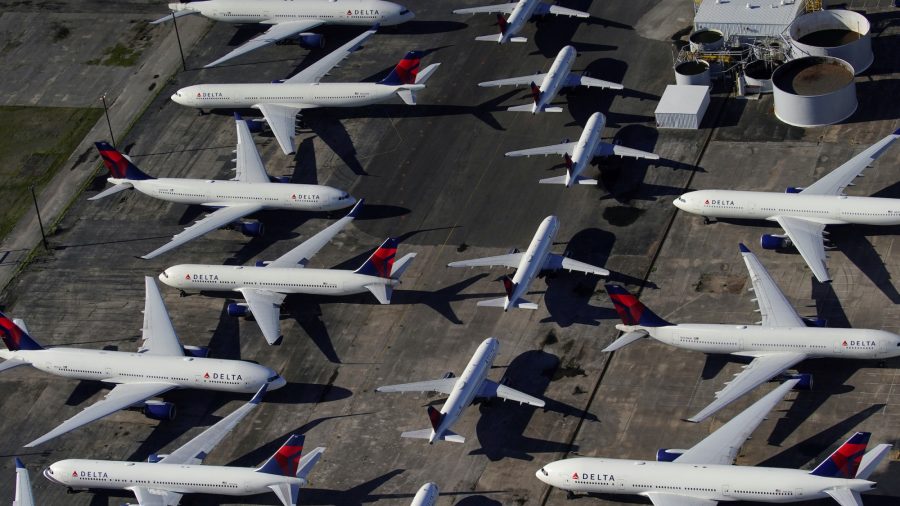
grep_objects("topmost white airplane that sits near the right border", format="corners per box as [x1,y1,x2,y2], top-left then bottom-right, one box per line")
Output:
[675,129,900,281]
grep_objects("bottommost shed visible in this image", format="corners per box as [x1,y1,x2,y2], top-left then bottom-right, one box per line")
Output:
[654,84,710,129]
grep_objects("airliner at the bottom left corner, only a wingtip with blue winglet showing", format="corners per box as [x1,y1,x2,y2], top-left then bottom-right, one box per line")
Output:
[12,456,34,506]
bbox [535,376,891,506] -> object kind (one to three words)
airplane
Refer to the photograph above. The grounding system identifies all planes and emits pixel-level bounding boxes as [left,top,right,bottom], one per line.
[675,129,900,281]
[150,0,416,67]
[89,111,356,258]
[159,199,417,344]
[451,0,592,45]
[375,337,547,445]
[503,112,660,187]
[171,20,439,154]
[405,483,434,506]
[535,376,891,506]
[0,277,287,449]
[603,242,900,422]
[475,45,624,115]
[43,382,326,506]
[446,216,610,312]
[12,456,34,506]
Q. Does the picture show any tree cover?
No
